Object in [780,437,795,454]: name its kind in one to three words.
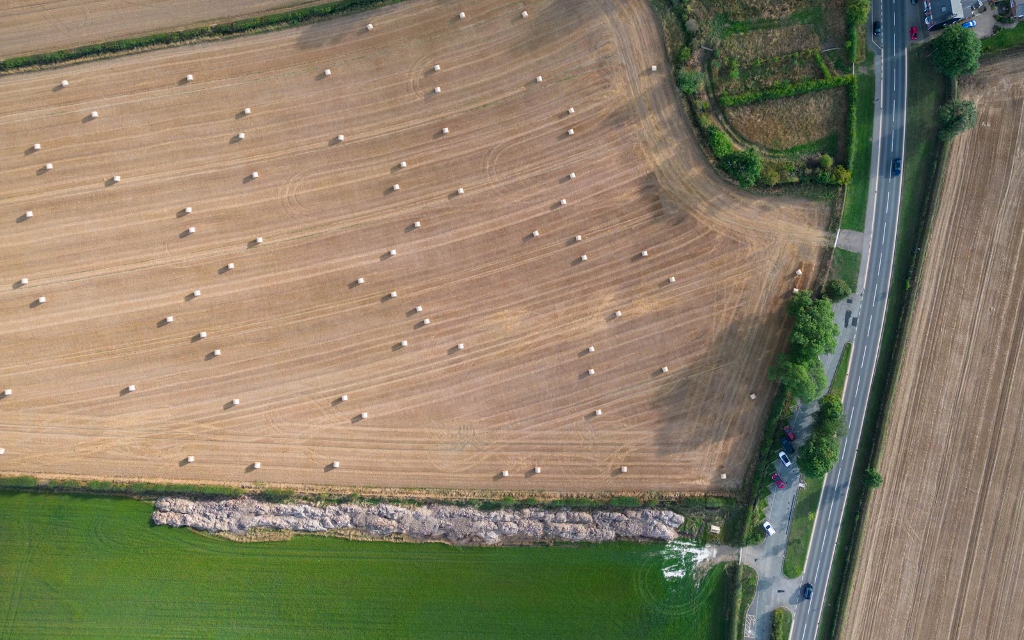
car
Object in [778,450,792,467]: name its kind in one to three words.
car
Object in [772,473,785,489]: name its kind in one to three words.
vehicle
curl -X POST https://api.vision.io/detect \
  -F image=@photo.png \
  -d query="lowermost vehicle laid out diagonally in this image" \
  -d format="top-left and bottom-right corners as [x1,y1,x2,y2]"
[762,521,776,535]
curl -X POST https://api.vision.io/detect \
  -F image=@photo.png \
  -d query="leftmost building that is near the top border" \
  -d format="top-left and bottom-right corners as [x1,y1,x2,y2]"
[919,0,977,31]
